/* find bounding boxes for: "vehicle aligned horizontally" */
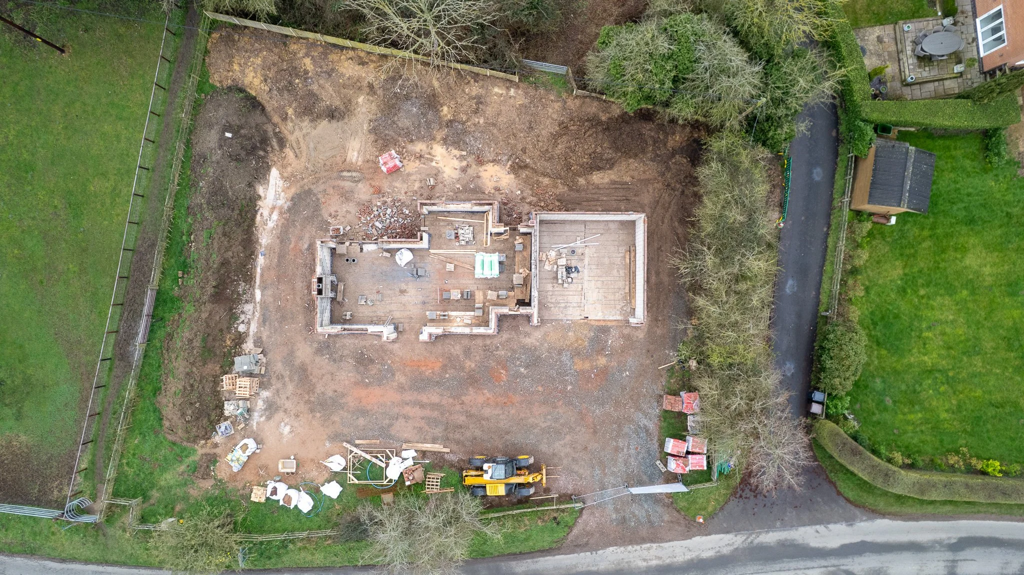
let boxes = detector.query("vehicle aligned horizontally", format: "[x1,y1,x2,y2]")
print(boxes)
[461,454,557,500]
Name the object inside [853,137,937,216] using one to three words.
shed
